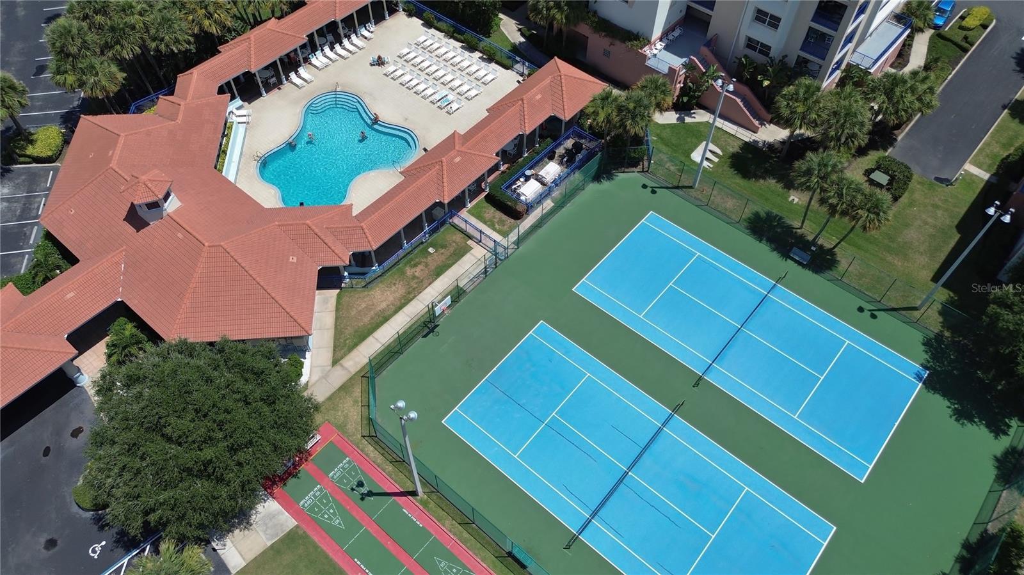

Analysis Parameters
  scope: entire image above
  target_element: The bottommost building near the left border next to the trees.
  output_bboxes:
[0,93,355,450]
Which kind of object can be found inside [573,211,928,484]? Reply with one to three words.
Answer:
tennis court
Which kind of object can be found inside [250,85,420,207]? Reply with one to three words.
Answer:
swimming pool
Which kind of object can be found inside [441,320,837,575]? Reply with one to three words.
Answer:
tennis court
